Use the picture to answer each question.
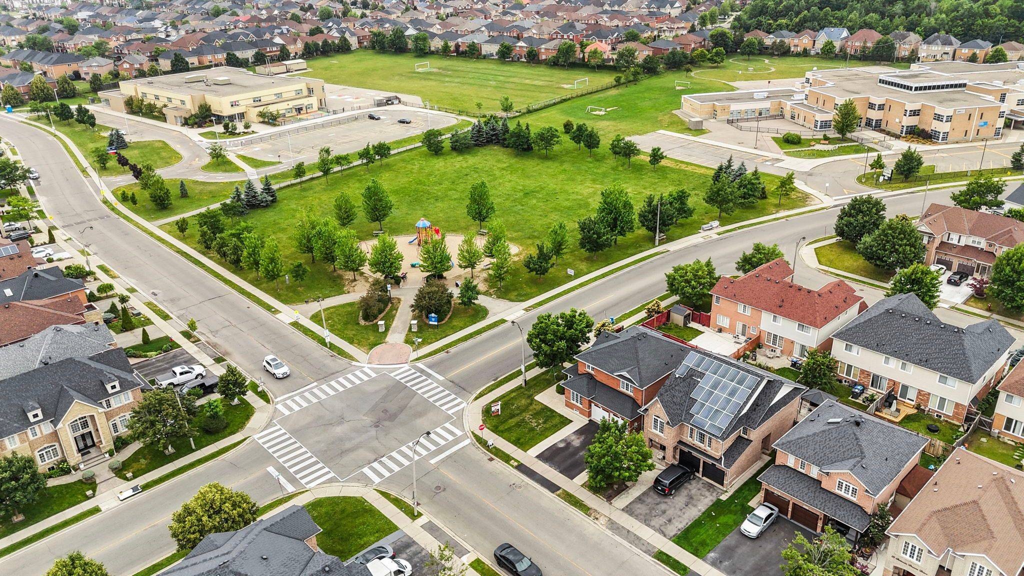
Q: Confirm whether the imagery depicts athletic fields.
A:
Yes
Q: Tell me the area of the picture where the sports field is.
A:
top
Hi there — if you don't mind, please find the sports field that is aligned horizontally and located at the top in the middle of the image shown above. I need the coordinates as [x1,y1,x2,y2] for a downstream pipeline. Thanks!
[283,50,620,115]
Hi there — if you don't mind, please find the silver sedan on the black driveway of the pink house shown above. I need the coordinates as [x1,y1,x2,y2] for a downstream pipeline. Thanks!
[742,502,781,537]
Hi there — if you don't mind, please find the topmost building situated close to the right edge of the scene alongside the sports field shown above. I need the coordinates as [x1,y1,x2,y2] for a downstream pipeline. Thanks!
[681,61,1024,142]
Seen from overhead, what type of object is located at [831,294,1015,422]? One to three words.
house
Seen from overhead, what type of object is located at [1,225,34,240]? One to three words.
car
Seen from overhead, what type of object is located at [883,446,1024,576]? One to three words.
house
